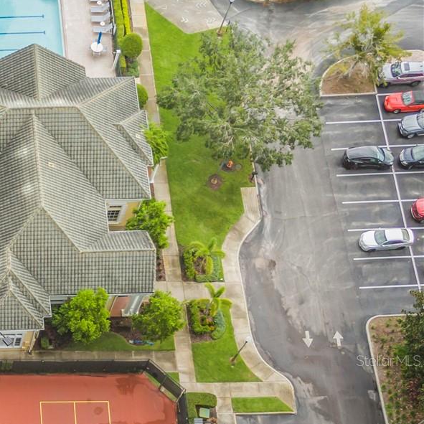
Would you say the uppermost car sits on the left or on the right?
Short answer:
right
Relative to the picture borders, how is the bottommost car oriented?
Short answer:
from left to right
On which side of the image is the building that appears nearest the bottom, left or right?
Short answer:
left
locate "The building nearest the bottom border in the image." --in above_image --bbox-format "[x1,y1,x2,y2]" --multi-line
[0,47,160,349]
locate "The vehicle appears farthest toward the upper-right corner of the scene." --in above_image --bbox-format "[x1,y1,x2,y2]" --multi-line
[379,63,424,87]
